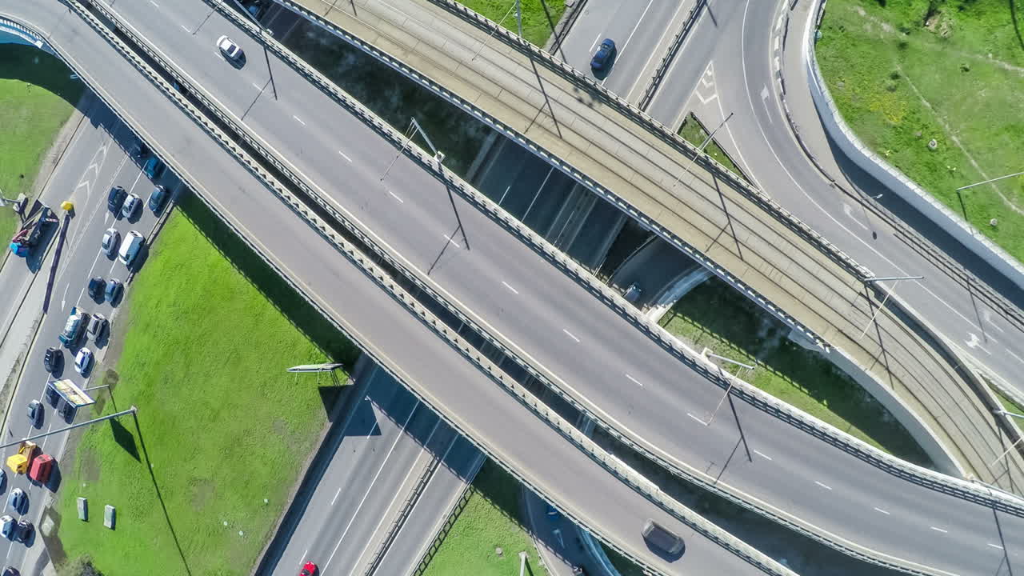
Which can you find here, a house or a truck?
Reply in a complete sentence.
Looking from above, you can make out a truck.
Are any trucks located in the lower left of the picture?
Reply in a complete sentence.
Yes, looking in the lower left of the picture, one can make out a truck.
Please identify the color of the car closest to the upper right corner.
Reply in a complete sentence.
The car closest to the upper right corner looks blue in the image.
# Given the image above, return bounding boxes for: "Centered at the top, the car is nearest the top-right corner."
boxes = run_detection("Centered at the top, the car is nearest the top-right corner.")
[591,37,617,71]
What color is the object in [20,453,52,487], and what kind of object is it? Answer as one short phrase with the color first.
red van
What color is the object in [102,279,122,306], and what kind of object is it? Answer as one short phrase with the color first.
blue car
